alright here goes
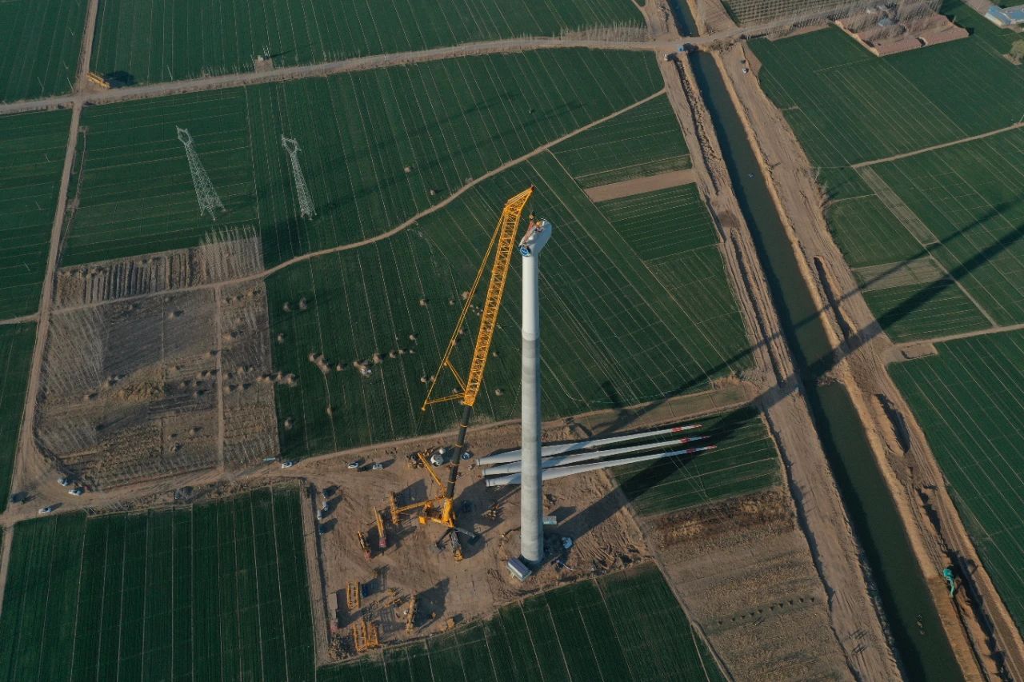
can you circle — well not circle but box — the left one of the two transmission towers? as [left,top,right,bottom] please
[174,123,225,219]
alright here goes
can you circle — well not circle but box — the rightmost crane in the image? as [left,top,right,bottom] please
[395,185,535,556]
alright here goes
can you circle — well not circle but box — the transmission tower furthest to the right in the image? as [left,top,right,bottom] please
[279,132,321,223]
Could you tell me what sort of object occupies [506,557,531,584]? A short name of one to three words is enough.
building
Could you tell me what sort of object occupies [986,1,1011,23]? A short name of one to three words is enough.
building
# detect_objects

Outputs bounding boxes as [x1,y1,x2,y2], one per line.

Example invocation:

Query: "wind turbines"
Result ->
[517,214,552,566]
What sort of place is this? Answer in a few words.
parking lot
